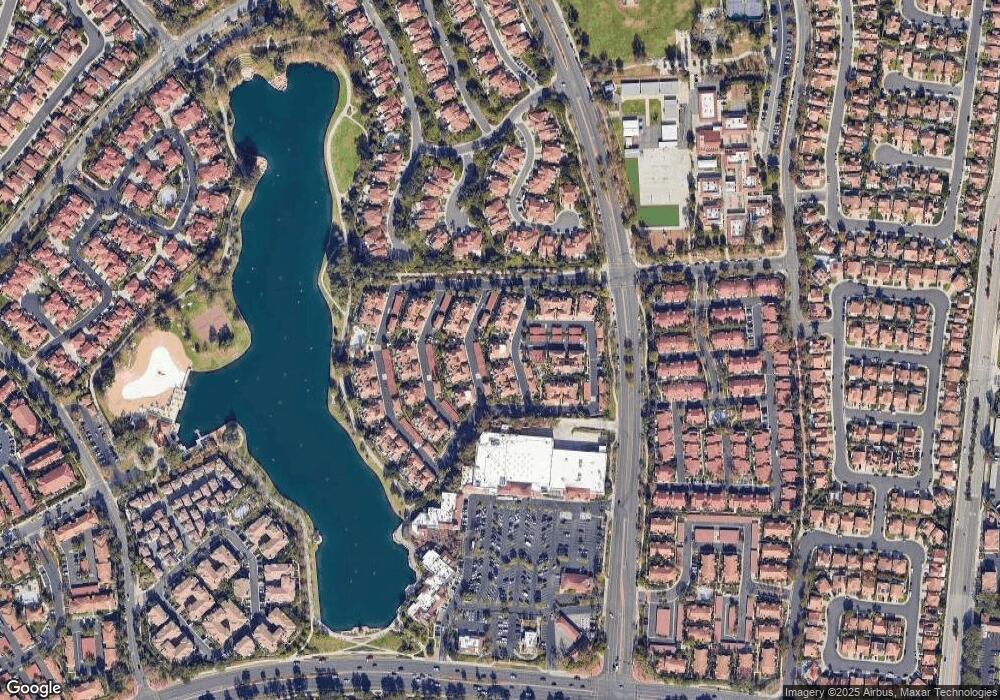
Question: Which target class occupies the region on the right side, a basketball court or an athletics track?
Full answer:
It is a basketball court that can be seen on the right side.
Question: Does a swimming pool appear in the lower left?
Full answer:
Yes, the scene does show a swimming pool in the lower left.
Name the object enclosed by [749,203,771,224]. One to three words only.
building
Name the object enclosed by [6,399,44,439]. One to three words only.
building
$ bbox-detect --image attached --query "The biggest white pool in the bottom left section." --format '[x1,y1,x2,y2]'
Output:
[16,576,40,602]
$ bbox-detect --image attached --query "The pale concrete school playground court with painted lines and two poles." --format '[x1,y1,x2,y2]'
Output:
[640,148,688,205]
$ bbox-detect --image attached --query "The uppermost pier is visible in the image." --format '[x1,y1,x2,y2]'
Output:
[146,367,190,423]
